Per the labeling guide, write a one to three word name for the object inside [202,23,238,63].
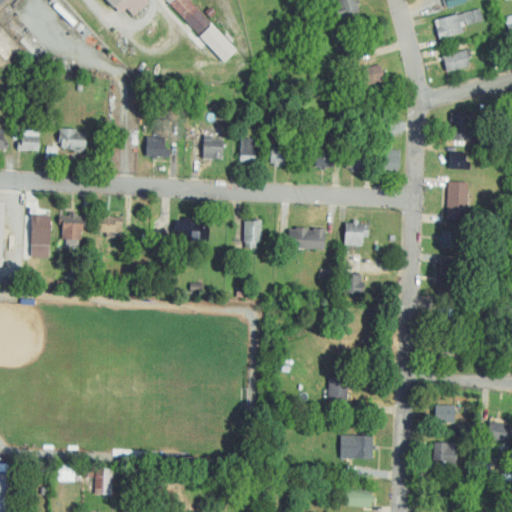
barn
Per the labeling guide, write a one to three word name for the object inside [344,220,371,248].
house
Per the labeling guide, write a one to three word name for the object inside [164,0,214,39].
barn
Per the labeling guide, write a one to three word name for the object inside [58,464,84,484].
shed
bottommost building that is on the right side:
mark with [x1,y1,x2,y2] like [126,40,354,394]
[347,490,376,511]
